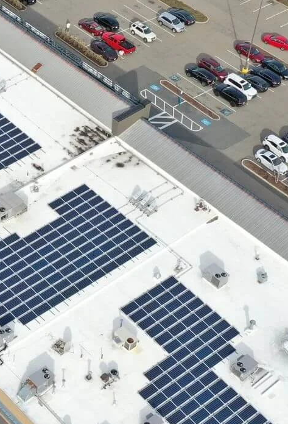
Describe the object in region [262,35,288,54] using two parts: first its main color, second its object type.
red car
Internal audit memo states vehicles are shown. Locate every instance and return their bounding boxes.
[127,20,157,43]
[198,57,228,81]
[212,80,248,107]
[262,35,288,54]
[262,135,288,162]
[253,149,288,175]
[77,18,105,38]
[233,42,264,63]
[240,71,273,94]
[101,32,137,57]
[249,64,281,88]
[88,40,118,62]
[186,66,217,87]
[225,73,258,100]
[168,8,195,27]
[92,12,120,32]
[156,11,186,32]
[262,58,288,81]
